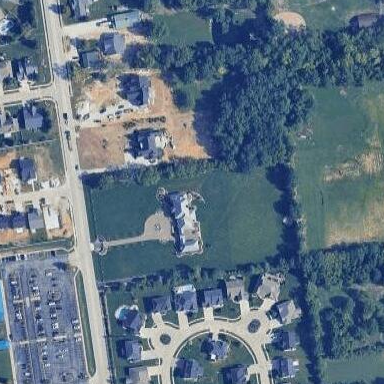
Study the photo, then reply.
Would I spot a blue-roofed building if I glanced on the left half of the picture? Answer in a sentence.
Yes, a blue-roofed building is visible on the left half of the picture.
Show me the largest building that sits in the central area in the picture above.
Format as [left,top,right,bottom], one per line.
[168,192,207,258]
